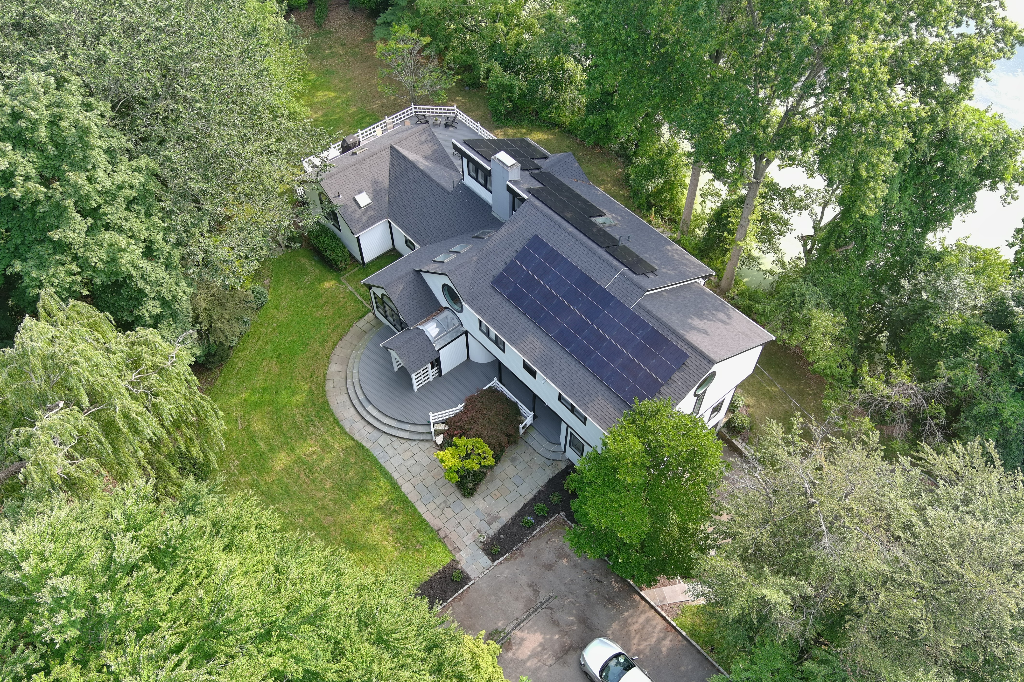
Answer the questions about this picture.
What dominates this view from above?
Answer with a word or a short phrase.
trees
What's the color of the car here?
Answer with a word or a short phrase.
white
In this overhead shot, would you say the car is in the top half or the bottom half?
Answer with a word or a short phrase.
bottom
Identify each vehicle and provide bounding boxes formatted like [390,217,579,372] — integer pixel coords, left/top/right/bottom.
[580,637,654,682]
